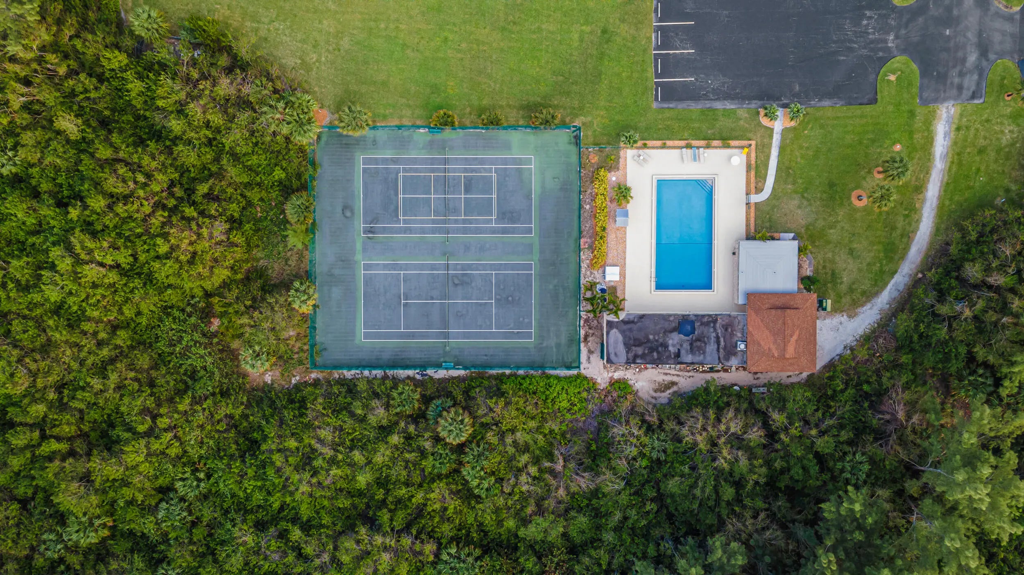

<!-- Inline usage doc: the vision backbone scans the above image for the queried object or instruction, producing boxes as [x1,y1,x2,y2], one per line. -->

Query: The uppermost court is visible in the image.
[314,129,579,249]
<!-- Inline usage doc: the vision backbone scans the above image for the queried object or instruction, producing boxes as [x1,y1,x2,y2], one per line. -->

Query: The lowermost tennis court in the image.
[315,249,579,366]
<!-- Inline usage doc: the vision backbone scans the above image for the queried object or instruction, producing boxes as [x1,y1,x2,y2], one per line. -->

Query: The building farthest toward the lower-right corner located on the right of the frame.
[741,293,817,373]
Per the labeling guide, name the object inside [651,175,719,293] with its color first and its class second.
blue swimming pool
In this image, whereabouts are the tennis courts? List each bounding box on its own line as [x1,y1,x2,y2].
[315,249,579,366]
[314,129,579,249]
